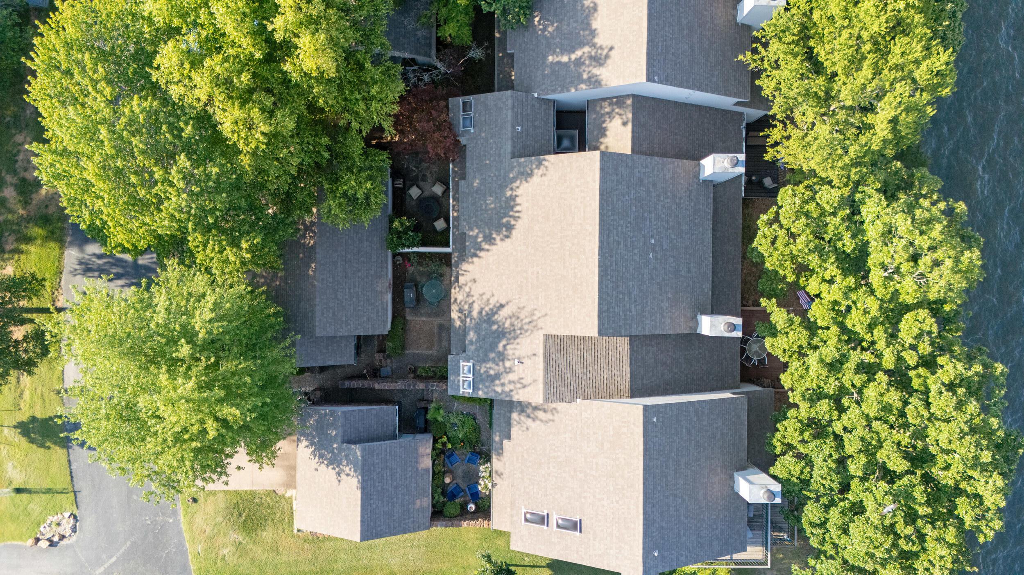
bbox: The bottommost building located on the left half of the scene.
[297,396,432,542]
